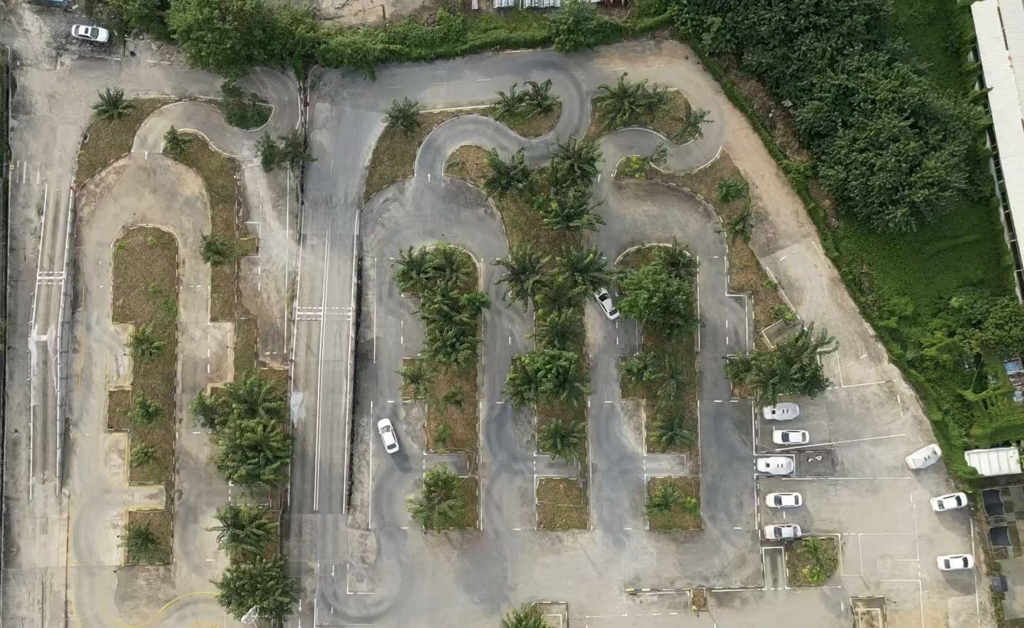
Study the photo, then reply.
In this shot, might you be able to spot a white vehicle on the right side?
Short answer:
Yes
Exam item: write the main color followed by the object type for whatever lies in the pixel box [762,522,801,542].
white car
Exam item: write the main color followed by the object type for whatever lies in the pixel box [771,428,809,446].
white car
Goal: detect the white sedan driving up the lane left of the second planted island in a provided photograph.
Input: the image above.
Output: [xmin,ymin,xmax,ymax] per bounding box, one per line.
[378,418,399,454]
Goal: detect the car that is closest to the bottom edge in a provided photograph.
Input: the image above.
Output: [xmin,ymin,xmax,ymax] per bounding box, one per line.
[934,553,973,572]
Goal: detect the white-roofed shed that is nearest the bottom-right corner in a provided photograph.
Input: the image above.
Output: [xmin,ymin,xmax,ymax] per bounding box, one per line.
[963,446,1023,477]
